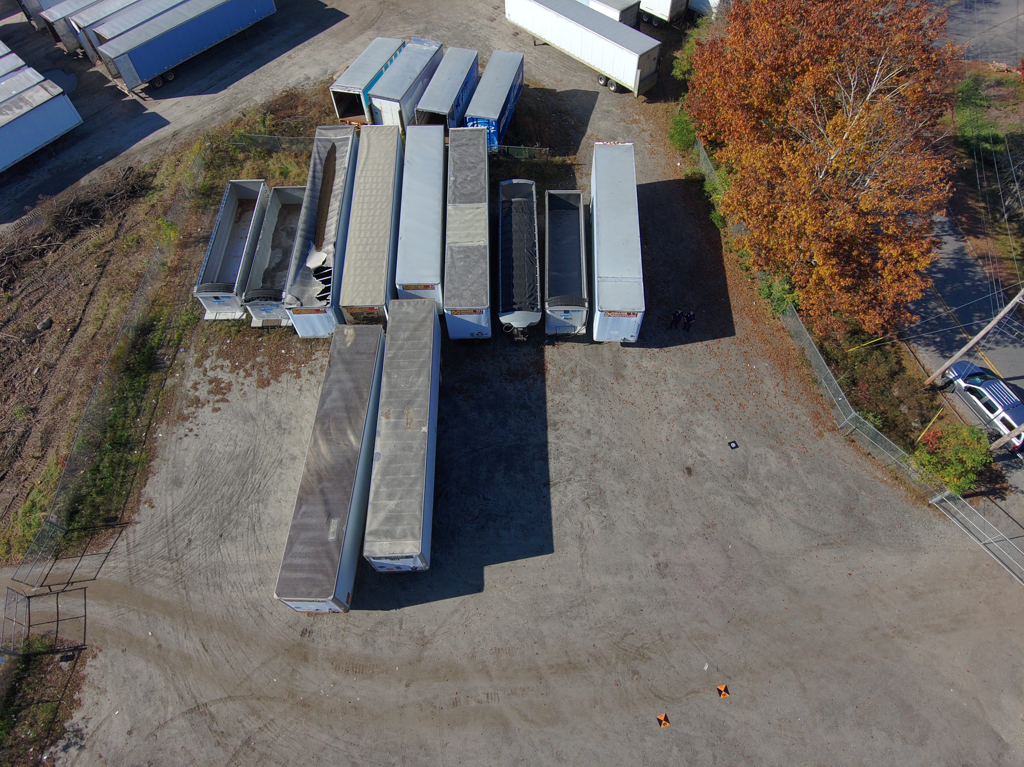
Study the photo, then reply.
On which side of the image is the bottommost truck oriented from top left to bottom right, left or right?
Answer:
right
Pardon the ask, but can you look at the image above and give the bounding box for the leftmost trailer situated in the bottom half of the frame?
[276,325,386,614]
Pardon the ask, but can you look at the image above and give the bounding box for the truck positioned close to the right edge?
[940,364,1024,460]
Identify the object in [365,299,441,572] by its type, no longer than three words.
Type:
trailer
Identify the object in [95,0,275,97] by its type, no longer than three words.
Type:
trailer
